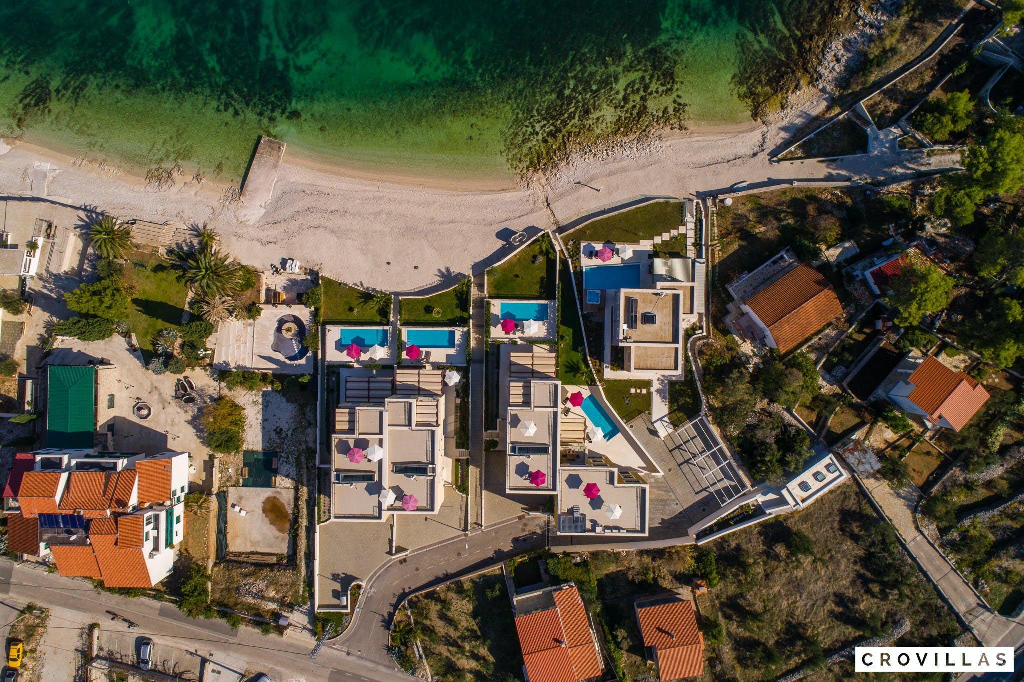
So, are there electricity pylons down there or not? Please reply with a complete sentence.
Yes, this view includes an electricity pylon.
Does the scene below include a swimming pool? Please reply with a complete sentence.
Yes, there's a swimming pool down there.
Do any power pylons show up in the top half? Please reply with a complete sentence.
No, there is no power pylon in the top half.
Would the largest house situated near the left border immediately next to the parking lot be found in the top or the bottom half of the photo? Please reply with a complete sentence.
You can find the largest house situated near the left border immediately next to the parking lot in the bottom half.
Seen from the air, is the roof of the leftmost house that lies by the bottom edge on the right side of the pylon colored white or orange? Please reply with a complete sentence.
From above, the roof of the leftmost house that lies by the bottom edge on the right side of the pylon appears orange.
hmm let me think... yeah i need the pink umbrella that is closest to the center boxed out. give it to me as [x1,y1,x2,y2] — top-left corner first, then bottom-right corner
[501,318,516,335]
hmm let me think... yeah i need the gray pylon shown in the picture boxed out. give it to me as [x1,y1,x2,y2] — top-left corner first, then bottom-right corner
[304,622,335,661]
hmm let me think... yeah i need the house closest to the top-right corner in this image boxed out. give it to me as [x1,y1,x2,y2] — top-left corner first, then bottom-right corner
[855,246,947,296]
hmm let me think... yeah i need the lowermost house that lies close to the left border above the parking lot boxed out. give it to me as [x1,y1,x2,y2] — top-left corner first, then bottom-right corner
[2,449,191,587]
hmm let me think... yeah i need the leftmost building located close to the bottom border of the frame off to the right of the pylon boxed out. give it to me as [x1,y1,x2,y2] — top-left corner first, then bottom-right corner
[512,576,606,682]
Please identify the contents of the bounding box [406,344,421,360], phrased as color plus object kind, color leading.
pink umbrella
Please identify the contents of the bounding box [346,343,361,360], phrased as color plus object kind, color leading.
pink umbrella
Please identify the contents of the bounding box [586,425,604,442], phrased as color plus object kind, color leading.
white umbrella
